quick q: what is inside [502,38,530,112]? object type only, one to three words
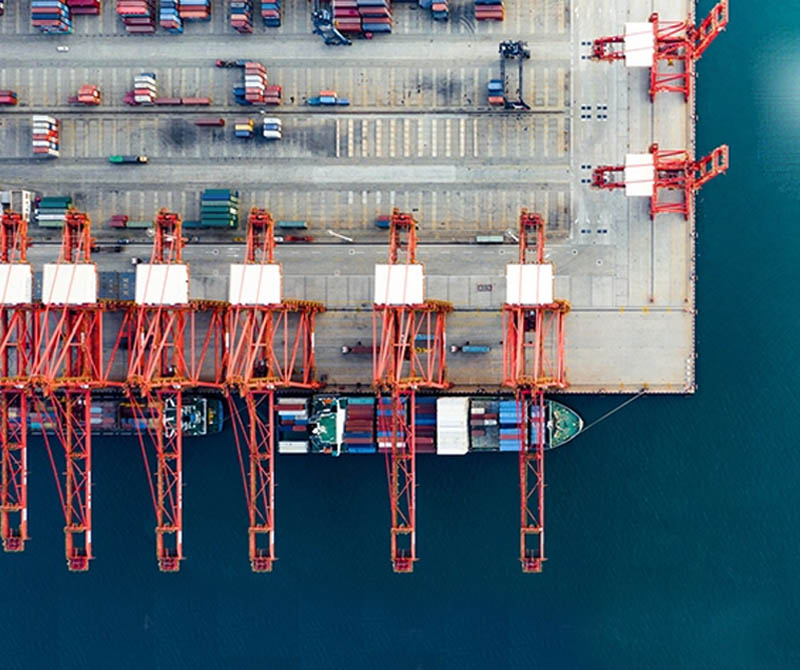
container crane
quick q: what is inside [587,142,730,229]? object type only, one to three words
container crane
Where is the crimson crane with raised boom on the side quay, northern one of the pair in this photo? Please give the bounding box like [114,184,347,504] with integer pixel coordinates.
[587,2,730,109]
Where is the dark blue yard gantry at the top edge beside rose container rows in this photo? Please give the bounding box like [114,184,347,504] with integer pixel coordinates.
[312,0,351,45]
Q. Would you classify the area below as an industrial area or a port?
port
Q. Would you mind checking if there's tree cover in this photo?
No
